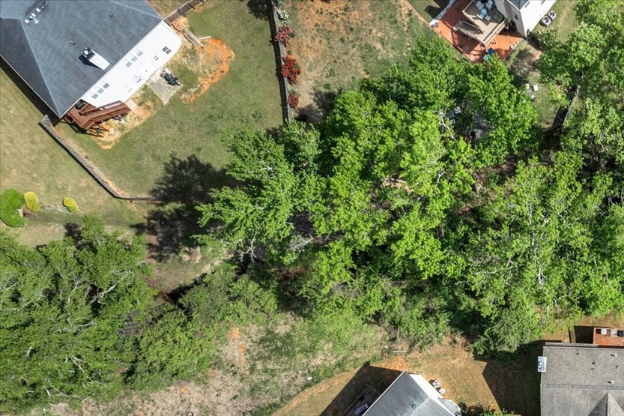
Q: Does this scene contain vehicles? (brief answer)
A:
No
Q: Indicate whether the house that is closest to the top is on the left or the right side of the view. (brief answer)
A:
right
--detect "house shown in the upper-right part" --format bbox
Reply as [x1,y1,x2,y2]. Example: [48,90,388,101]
[475,0,556,36]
